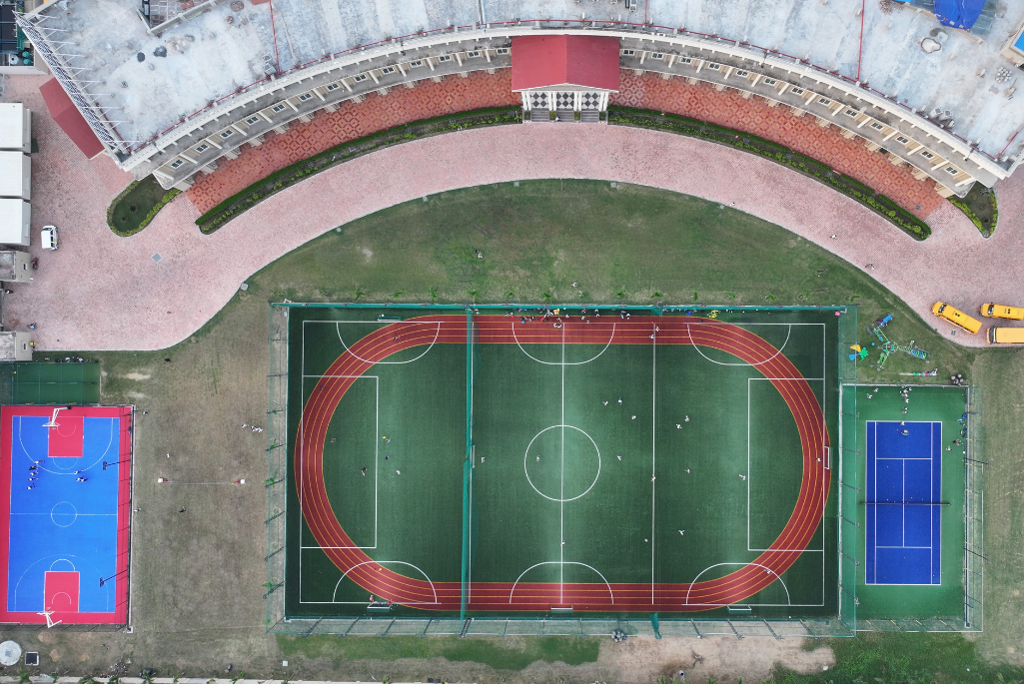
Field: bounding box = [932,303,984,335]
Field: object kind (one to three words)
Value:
bus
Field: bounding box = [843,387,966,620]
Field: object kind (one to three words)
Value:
tennis court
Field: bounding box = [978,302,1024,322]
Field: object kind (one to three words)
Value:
bus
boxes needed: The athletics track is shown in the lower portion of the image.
[294,315,831,612]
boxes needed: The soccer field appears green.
[285,309,840,619]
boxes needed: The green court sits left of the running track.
[0,362,100,404]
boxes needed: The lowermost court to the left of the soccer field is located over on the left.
[0,405,131,624]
